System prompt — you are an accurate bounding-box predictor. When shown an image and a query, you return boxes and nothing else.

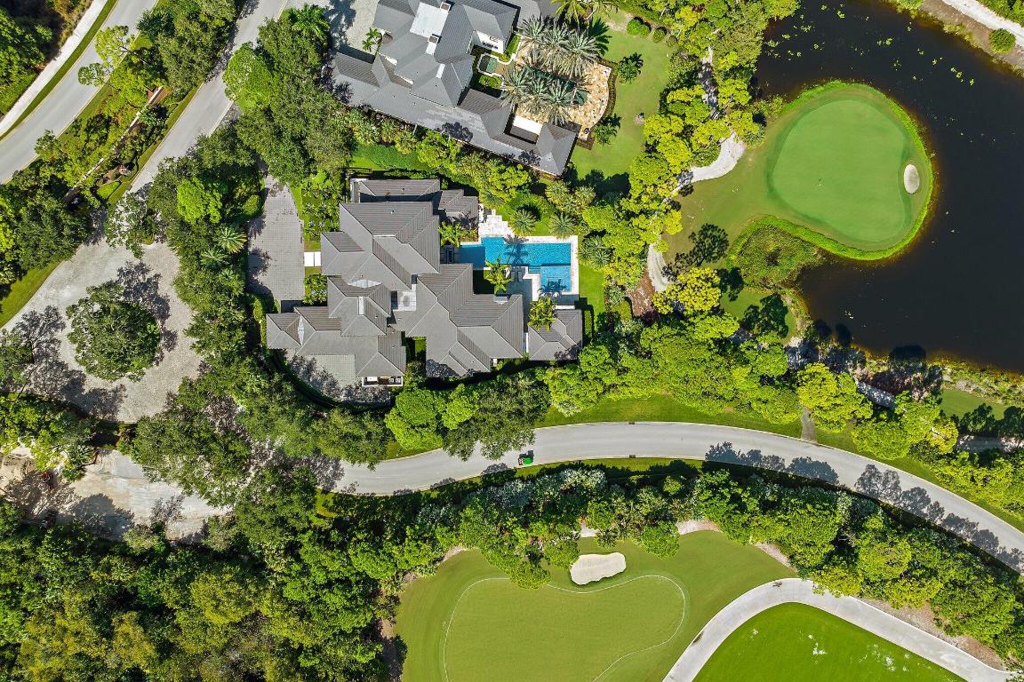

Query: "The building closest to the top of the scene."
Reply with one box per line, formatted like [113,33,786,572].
[322,0,582,176]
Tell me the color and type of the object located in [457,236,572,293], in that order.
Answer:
blue swimming pool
